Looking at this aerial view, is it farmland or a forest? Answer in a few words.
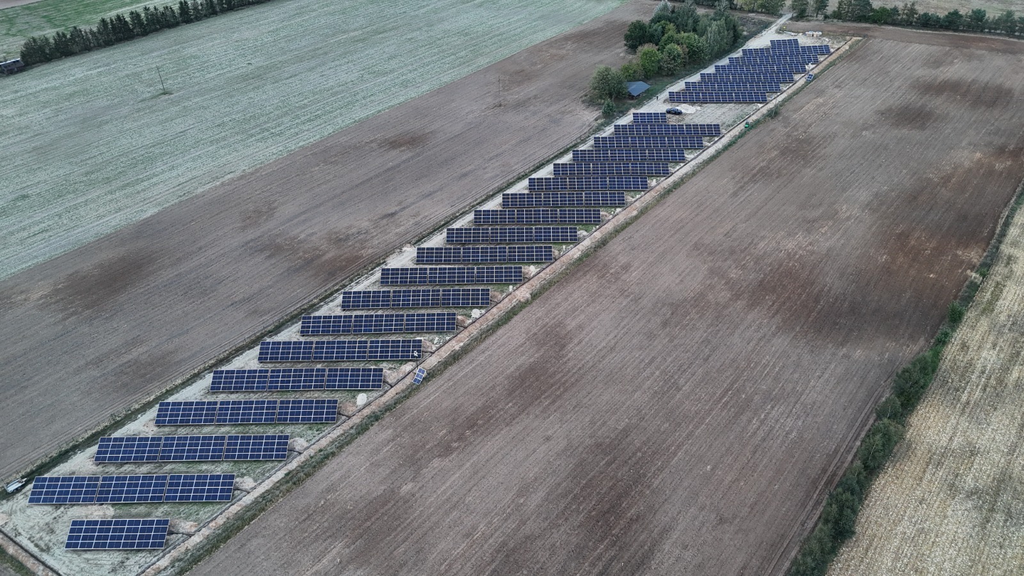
farmland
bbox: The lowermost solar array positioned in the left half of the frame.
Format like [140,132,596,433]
[65,519,169,549]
